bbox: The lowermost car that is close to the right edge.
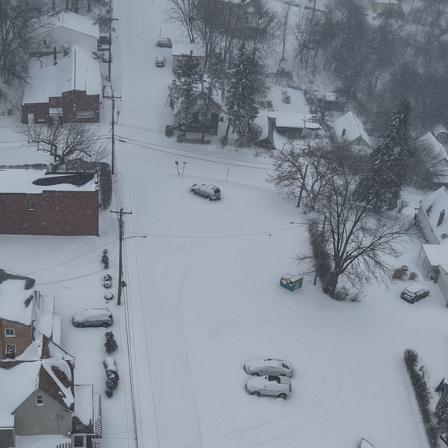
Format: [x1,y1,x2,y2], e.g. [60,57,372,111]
[403,280,430,304]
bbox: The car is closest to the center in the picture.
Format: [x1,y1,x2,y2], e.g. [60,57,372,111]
[191,183,223,200]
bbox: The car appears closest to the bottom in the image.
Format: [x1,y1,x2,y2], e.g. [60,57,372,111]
[246,378,294,402]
